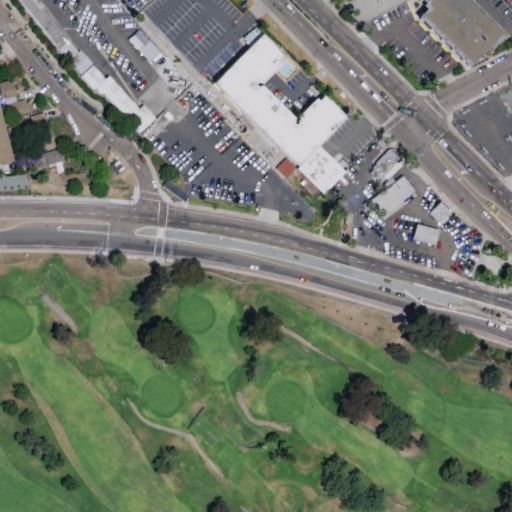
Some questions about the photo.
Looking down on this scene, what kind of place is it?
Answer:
golf course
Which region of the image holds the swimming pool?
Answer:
top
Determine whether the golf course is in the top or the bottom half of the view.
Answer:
bottom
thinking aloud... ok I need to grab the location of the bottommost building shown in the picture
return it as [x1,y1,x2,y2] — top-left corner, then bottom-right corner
[414,224,441,246]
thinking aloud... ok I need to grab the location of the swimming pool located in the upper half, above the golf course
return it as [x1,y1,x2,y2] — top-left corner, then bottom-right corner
[277,58,299,81]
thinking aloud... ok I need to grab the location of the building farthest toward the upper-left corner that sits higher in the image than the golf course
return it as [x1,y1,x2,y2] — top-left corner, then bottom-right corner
[20,0,72,52]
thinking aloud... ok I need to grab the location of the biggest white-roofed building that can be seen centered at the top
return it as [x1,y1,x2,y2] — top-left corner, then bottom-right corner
[216,34,350,167]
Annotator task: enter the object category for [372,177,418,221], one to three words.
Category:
building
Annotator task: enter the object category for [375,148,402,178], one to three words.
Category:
building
